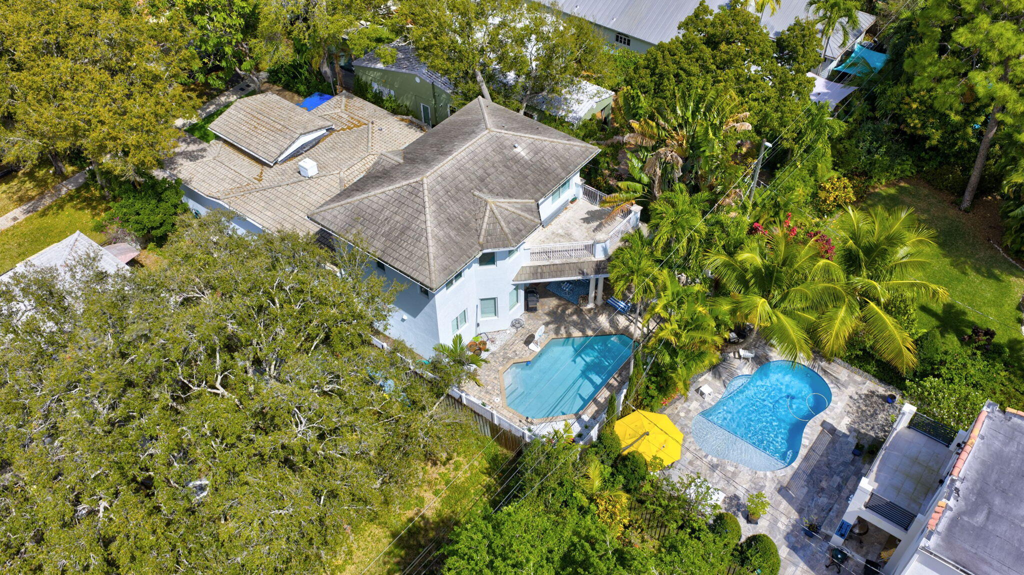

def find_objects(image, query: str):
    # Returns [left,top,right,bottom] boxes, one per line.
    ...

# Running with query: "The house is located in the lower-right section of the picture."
[863,396,1024,575]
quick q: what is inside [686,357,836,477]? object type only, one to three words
swimming pool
